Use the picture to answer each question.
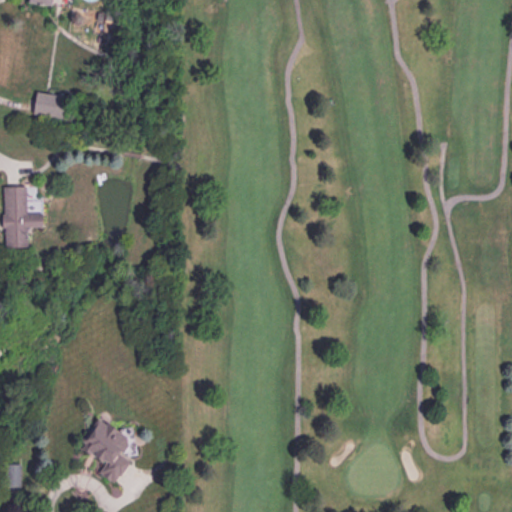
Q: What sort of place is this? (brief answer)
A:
golf course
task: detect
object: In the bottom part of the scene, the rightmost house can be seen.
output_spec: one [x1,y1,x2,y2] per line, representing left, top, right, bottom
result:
[88,420,131,482]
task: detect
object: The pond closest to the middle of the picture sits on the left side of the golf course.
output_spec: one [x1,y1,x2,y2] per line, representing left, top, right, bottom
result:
[98,179,132,241]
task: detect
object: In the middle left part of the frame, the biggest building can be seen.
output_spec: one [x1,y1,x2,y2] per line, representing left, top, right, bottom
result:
[2,186,44,249]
